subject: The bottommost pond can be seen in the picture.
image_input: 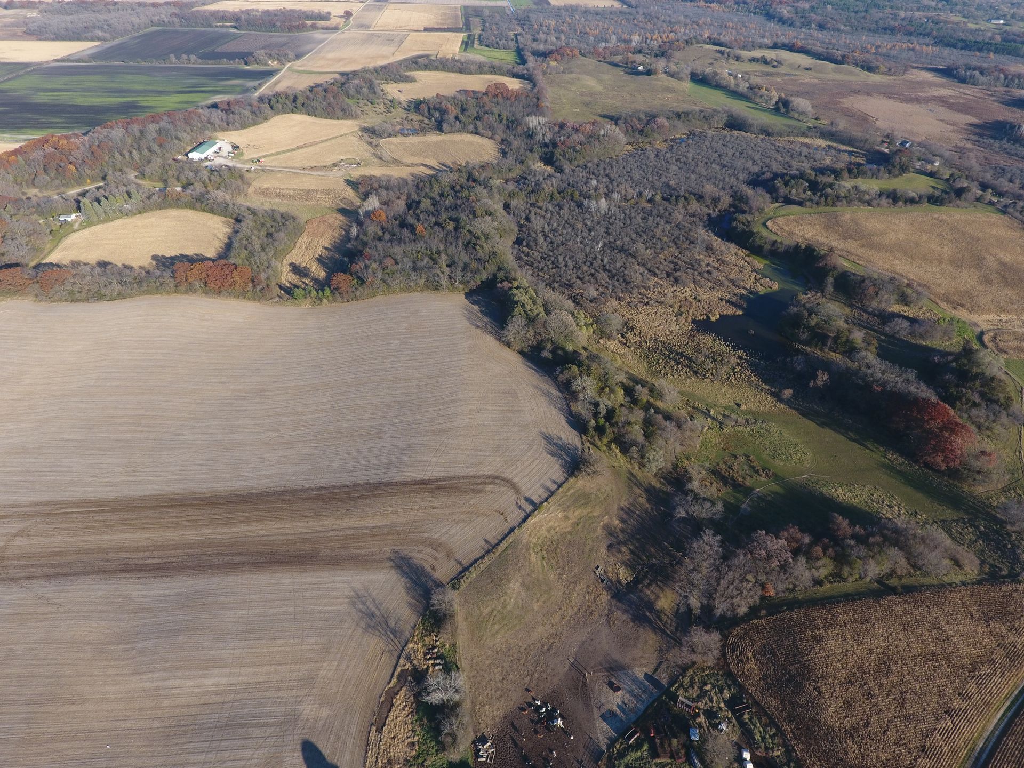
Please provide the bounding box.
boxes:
[694,212,811,356]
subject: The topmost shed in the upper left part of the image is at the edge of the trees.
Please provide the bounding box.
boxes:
[186,138,220,159]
